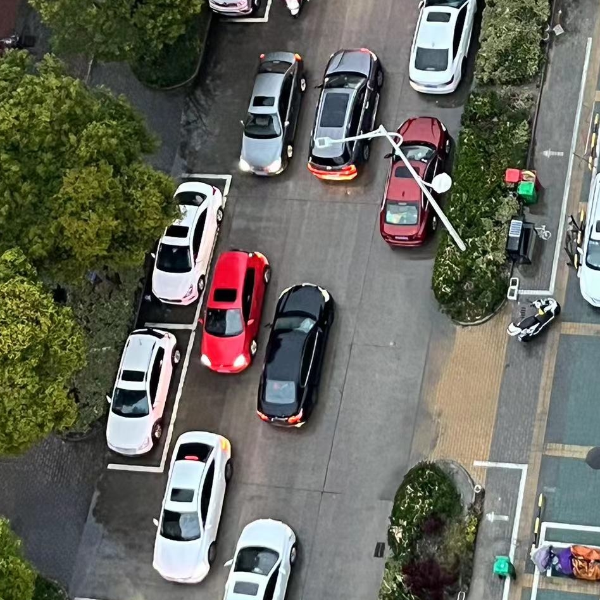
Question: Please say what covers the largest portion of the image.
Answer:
paved ground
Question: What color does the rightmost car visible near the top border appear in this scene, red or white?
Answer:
white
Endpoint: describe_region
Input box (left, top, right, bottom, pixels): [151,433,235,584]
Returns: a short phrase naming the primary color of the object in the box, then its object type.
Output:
white car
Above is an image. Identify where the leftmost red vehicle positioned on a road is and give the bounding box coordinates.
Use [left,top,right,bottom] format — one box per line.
[199,251,275,377]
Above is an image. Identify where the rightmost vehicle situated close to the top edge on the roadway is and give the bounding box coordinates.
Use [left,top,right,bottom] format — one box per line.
[411,0,483,95]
